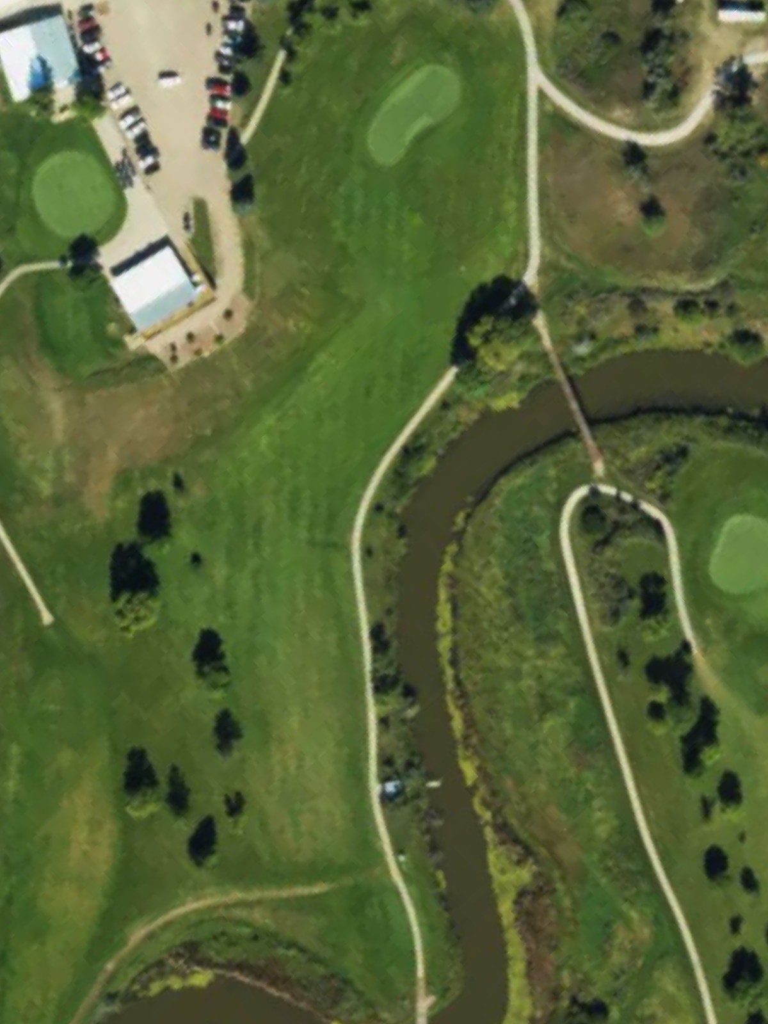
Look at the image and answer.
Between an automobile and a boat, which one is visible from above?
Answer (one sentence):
There is an automobile in the scene.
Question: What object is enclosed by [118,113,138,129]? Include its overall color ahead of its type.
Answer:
white car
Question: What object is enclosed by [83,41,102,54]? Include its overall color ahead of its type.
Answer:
white vehicle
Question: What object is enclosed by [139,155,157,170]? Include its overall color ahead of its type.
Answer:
white car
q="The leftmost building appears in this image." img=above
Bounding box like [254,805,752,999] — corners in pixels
[0,15,81,102]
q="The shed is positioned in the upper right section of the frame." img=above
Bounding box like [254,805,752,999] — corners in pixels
[719,10,767,22]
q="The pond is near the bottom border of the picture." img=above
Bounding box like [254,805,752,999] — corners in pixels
[104,973,329,1024]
